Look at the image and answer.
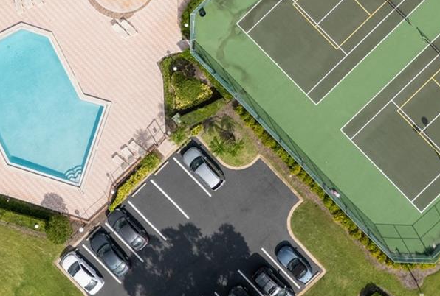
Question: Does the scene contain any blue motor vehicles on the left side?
No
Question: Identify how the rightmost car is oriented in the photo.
on a diagonal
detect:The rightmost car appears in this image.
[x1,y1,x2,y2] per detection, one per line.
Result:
[274,240,317,287]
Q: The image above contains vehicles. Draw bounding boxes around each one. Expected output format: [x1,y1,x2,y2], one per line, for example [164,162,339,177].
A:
[86,228,132,275]
[60,249,107,296]
[181,143,226,190]
[252,263,293,296]
[105,207,151,252]
[274,240,317,287]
